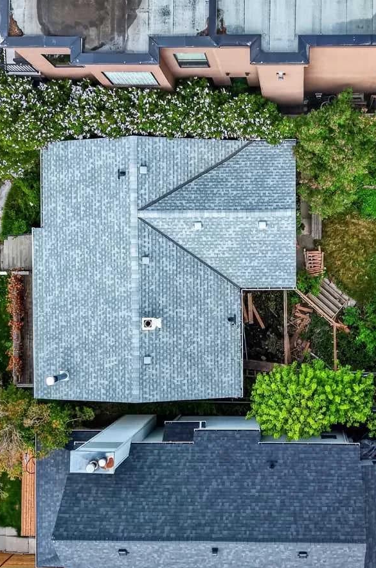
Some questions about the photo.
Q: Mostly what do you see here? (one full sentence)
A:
The scene is dominated by buildings.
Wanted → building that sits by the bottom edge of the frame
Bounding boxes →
[34,413,376,568]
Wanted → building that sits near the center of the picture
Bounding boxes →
[31,135,297,402]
